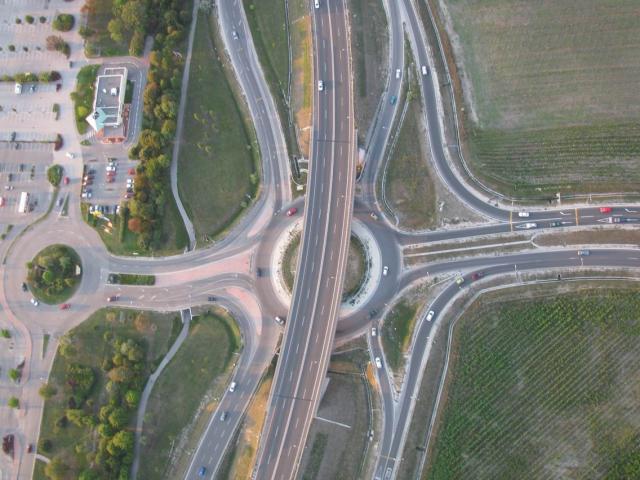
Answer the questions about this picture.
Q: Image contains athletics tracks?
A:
No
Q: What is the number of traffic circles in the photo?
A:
two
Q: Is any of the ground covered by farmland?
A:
Yes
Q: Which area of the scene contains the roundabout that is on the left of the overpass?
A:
left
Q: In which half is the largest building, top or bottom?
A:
top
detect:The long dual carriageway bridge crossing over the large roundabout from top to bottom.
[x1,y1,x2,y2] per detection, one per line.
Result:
[250,0,356,480]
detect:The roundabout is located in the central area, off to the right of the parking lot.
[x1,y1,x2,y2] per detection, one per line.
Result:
[253,194,401,339]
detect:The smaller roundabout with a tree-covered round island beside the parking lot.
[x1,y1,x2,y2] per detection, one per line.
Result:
[3,225,104,326]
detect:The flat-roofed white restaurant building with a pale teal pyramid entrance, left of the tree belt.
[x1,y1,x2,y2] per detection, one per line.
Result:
[86,66,129,126]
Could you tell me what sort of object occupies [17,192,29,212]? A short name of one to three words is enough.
vehicle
